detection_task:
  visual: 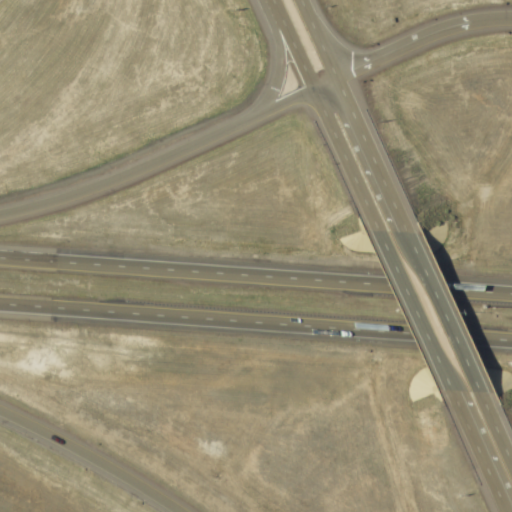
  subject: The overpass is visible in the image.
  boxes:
[340,221,512,406]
